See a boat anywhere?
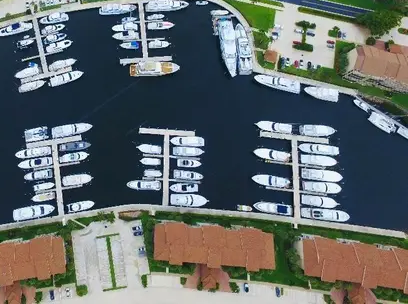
Yes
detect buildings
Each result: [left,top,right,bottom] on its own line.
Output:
[152,221,276,290]
[294,233,408,304]
[0,234,67,304]
[342,43,408,94]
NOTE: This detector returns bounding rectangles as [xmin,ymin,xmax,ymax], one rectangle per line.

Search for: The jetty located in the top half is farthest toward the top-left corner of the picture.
[19,18,73,84]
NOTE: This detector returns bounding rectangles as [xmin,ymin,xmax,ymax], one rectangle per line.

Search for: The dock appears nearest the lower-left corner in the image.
[26,134,83,216]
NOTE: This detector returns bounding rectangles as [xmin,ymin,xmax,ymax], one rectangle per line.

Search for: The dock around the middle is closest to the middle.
[139,127,200,206]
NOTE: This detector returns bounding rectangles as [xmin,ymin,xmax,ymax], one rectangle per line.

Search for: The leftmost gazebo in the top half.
[263,51,277,63]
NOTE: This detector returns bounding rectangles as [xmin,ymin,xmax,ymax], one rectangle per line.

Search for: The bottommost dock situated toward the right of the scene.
[260,131,329,217]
